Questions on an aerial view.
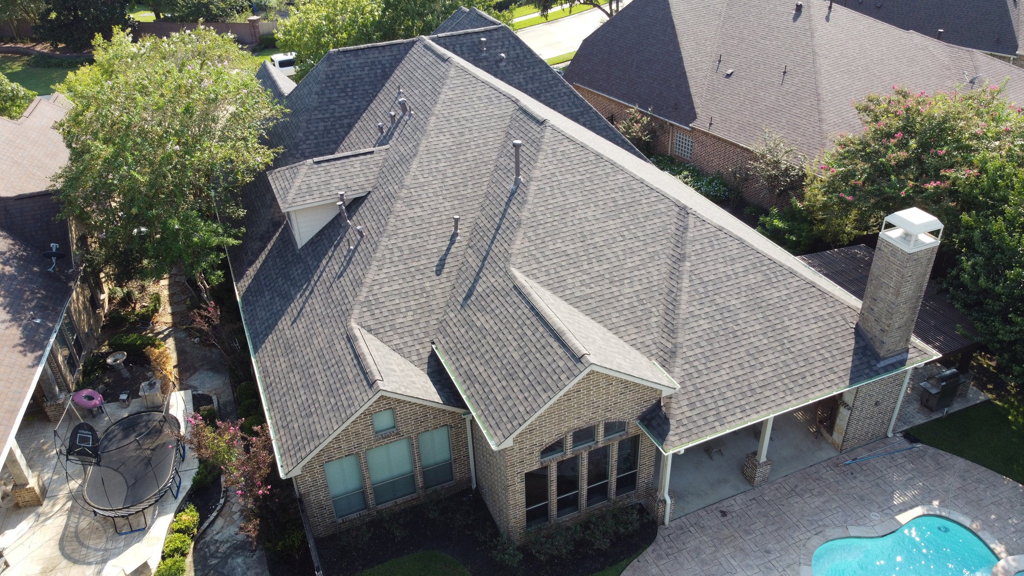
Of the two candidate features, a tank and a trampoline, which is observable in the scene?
trampoline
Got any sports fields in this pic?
No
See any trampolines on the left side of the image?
Yes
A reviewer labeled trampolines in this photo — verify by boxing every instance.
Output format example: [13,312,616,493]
[55,375,188,534]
